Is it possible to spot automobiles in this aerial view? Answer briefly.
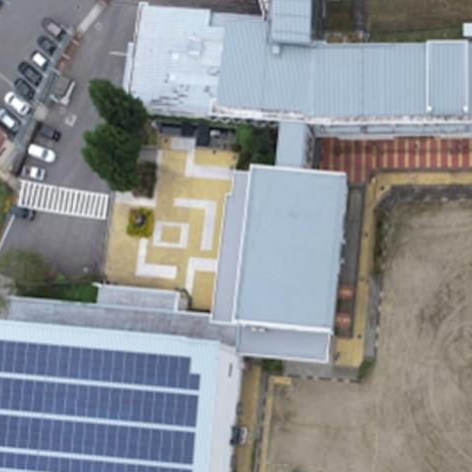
Yes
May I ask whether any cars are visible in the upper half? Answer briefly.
Yes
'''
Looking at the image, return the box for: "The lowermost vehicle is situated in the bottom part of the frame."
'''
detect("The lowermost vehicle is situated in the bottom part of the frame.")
[235,430,253,443]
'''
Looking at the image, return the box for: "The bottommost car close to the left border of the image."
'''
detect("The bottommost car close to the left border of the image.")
[7,205,42,224]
